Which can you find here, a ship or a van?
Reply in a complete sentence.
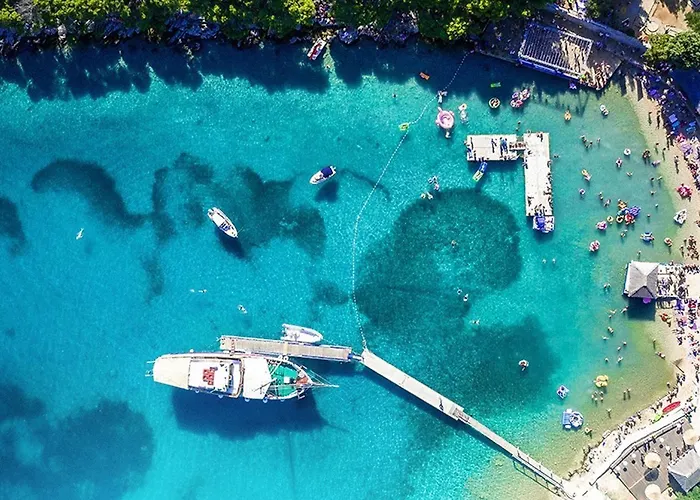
There is a ship in the scene.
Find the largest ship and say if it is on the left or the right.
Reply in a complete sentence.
The largest ship is on the left side of the image.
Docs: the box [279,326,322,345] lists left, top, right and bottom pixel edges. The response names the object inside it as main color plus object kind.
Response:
white boat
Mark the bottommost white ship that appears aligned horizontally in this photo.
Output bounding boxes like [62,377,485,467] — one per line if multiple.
[146,350,338,404]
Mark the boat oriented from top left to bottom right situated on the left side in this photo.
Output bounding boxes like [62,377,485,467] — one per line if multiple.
[206,207,245,237]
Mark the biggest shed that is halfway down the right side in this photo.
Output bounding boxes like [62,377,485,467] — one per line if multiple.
[624,261,659,299]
